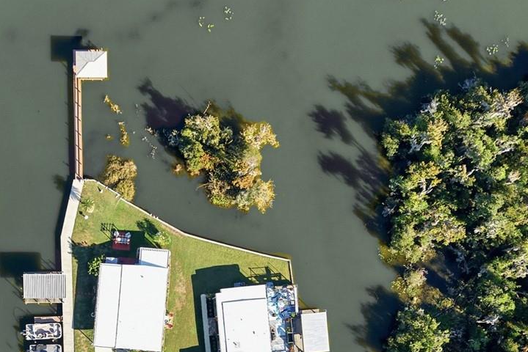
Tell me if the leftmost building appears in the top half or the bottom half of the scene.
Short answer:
bottom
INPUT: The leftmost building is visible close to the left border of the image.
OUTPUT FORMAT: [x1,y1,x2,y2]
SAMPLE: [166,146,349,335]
[23,274,65,304]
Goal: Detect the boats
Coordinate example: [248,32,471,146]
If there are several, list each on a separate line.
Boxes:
[22,323,63,339]
[29,345,63,352]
